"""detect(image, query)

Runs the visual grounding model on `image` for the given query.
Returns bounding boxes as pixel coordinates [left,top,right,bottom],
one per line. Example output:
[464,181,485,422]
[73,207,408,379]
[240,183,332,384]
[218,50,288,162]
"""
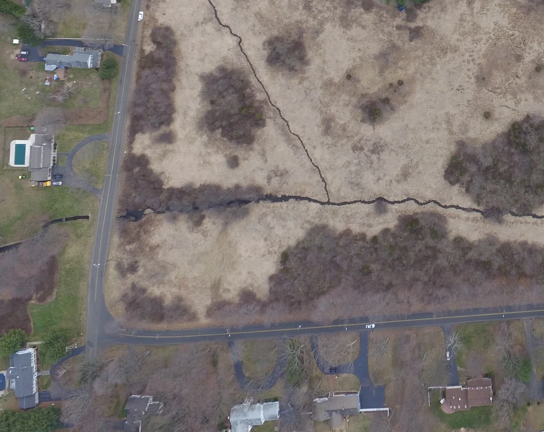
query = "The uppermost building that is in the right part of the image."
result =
[446,374,492,411]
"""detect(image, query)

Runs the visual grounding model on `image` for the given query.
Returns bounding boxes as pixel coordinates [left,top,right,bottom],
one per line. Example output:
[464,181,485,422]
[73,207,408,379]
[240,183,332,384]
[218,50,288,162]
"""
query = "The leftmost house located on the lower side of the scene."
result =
[5,348,40,410]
